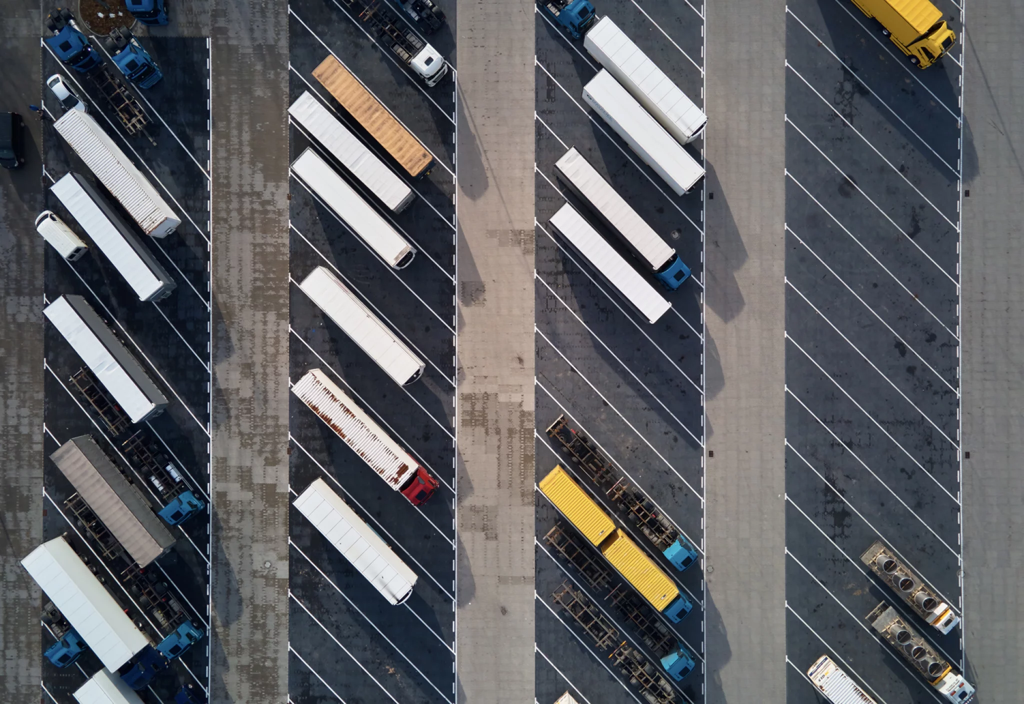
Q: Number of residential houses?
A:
0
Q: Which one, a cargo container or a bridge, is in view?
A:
cargo container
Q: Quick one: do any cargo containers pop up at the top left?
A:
Yes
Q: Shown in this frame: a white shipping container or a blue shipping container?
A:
white shipping container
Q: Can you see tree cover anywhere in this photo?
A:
No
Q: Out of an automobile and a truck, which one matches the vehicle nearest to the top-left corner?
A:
truck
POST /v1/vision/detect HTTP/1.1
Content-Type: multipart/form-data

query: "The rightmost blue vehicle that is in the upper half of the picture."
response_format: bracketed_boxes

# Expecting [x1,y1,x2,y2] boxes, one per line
[628,252,687,291]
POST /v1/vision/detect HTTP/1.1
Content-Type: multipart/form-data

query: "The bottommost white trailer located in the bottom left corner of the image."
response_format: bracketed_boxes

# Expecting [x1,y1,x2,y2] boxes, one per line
[72,666,150,704]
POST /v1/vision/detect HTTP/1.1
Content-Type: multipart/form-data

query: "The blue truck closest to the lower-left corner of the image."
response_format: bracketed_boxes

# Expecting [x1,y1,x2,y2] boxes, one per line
[46,601,92,662]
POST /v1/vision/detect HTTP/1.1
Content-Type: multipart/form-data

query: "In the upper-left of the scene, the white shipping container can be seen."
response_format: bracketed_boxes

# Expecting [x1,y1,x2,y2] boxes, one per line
[54,109,181,240]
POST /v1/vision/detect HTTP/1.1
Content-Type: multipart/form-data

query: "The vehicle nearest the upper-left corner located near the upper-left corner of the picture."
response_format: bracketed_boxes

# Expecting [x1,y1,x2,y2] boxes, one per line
[45,8,101,72]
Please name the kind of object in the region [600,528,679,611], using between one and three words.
shipping container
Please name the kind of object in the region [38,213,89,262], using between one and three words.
van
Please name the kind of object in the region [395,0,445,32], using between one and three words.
truck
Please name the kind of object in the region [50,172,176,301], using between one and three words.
trailer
